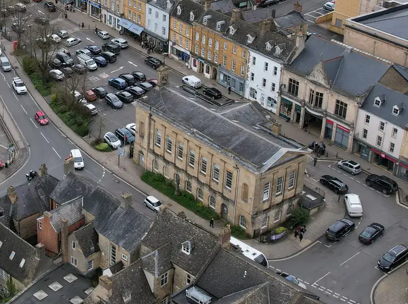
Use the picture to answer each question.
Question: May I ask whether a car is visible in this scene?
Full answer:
Yes, I can see a car in this picture.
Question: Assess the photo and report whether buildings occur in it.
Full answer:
Yes, a building can be made out from above.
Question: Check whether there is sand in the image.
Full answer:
No, the picture contains no sand.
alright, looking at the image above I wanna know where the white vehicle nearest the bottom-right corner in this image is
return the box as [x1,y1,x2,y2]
[346,195,364,217]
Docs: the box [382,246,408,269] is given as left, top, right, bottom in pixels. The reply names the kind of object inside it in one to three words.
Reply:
car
